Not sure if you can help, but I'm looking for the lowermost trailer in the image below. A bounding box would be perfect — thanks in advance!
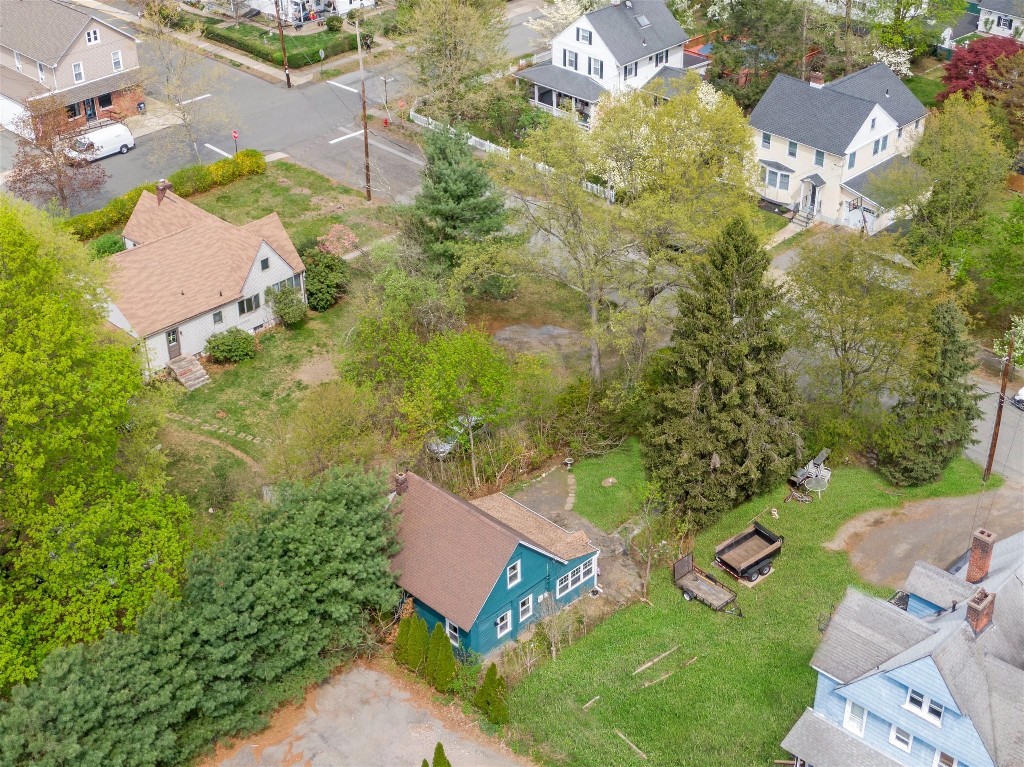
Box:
[673,553,749,618]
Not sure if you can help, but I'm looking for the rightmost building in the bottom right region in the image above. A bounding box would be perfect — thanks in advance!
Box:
[746,508,1024,767]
